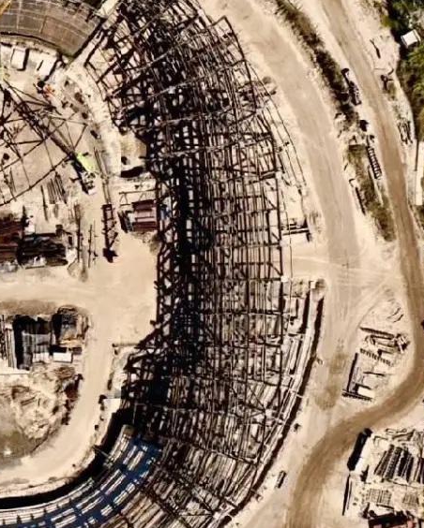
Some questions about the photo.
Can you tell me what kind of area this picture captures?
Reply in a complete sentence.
It's a sports ground.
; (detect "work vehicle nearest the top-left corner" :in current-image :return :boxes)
[31,89,55,102]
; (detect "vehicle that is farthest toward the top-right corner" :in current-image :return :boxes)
[371,25,394,46]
